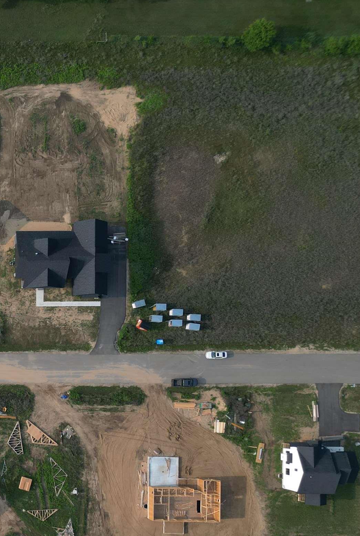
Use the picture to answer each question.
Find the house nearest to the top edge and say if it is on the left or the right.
left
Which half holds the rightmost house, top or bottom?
bottom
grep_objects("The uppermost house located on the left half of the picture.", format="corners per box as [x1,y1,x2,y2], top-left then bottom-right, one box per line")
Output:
[8,215,107,294]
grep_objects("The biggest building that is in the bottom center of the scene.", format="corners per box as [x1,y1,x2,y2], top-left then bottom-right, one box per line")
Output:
[142,455,221,534]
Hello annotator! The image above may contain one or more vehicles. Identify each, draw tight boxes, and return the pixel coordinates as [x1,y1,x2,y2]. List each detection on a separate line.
[205,350,228,360]
[170,377,198,388]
